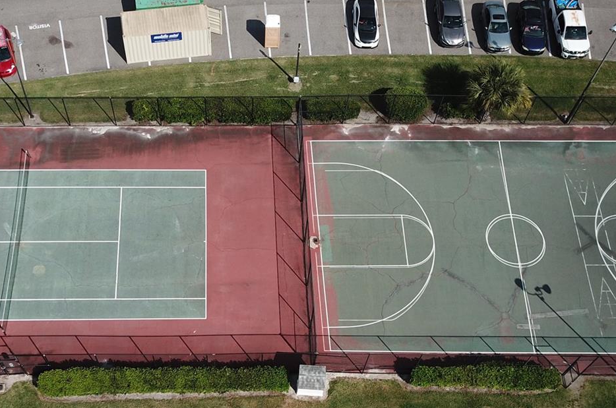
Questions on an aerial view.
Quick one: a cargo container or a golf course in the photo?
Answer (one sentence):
Visible in the photo is a cargo container.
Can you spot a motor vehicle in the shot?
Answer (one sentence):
Yes, the image includes a motor vehicle.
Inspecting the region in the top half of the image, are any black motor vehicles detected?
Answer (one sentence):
Yes, a black motor vehicle shows up in the top half of the image.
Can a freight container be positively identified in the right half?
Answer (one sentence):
No, no freight container is visible in the right half.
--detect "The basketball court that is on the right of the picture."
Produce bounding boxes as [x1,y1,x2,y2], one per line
[298,126,616,375]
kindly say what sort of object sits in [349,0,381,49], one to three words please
car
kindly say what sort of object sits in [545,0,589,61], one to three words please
truck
